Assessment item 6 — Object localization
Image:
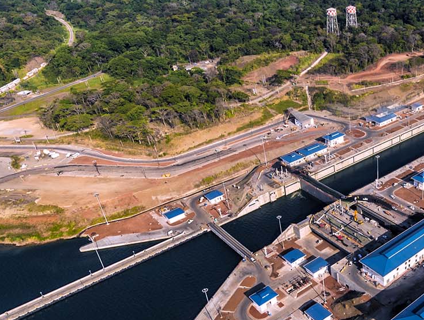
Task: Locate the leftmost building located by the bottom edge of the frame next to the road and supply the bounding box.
[249,285,279,312]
